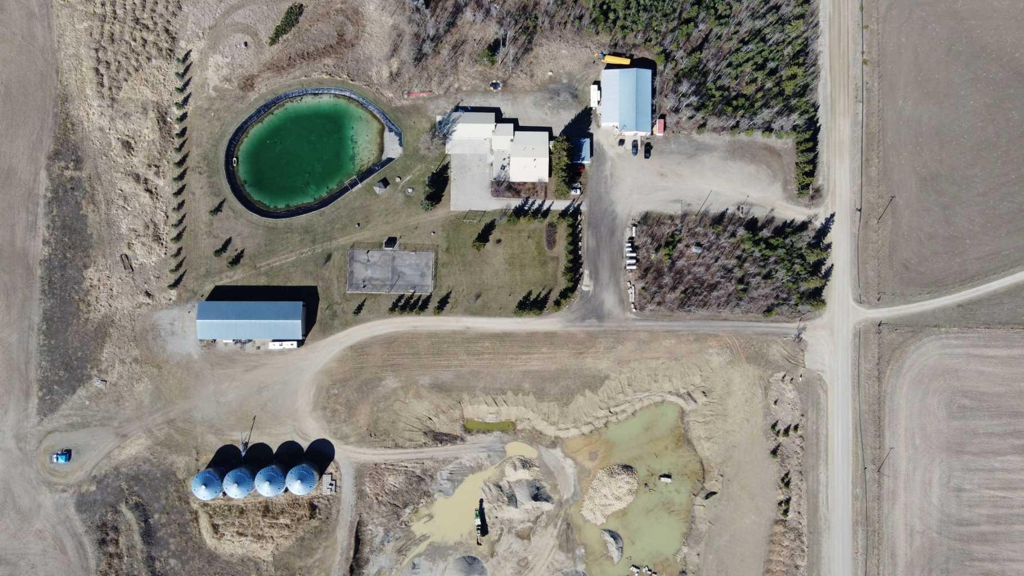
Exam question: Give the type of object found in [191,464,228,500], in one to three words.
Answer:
silo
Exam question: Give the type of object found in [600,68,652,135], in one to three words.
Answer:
building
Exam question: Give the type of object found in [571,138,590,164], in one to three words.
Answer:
building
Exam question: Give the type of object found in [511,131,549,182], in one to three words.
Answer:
house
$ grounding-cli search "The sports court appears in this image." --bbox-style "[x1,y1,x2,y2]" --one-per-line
[348,250,432,293]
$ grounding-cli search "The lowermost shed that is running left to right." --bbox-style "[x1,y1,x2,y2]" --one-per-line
[194,301,306,339]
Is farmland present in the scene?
Yes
